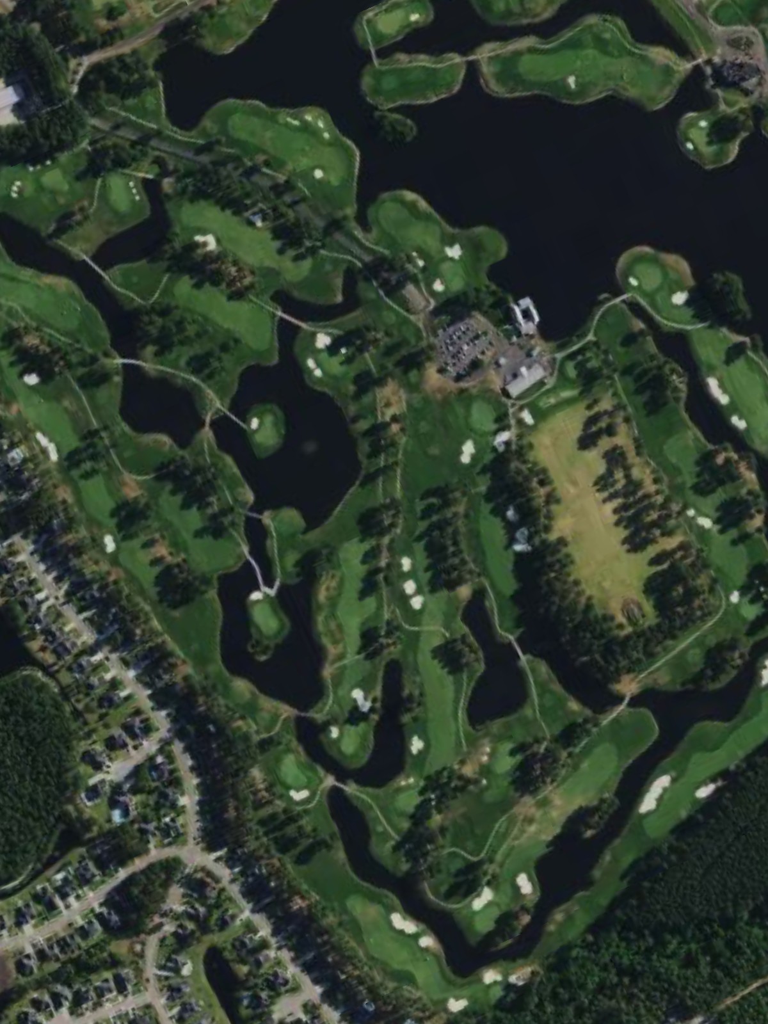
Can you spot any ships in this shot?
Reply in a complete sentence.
No, I can see no ship in this picture.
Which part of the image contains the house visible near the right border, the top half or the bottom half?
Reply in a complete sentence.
The house visible near the right border sits in the top half of the picture.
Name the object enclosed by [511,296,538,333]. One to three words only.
building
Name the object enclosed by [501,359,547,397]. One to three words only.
building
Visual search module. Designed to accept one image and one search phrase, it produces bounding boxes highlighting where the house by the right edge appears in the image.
[713,59,763,91]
